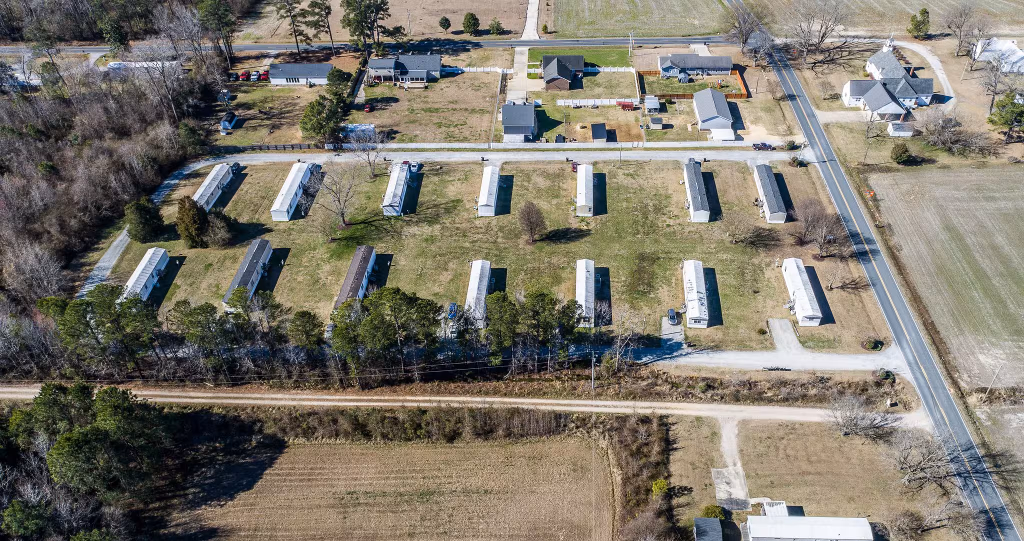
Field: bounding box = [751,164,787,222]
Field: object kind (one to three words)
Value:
house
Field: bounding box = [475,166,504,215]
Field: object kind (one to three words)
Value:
house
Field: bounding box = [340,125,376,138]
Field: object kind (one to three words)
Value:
shed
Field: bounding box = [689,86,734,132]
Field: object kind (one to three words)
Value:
building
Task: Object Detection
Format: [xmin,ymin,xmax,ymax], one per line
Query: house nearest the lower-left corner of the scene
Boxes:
[116,247,168,314]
